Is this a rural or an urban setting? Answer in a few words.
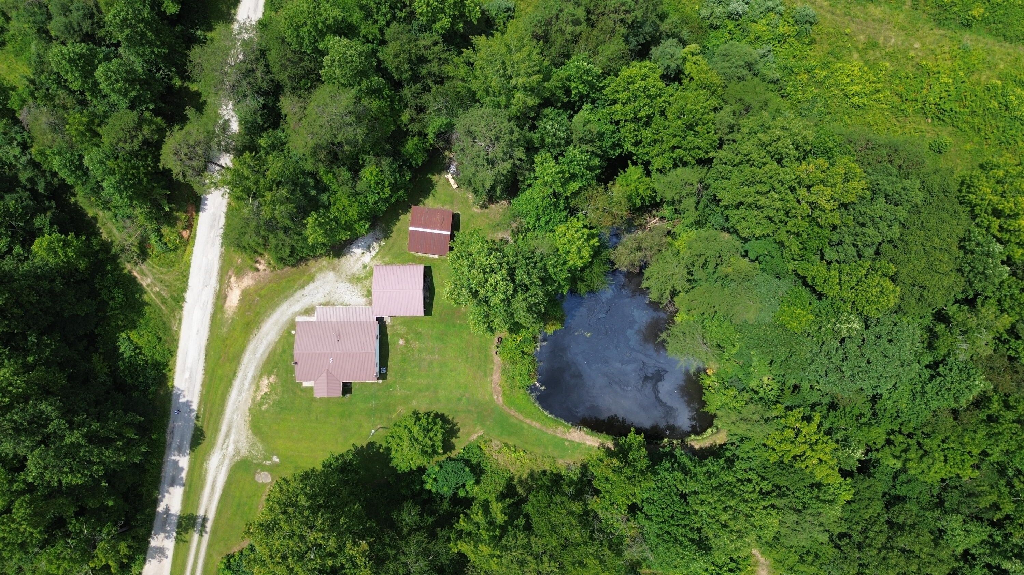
rural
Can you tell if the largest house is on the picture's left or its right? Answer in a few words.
left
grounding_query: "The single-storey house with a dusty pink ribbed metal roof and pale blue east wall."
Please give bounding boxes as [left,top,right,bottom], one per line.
[292,307,380,397]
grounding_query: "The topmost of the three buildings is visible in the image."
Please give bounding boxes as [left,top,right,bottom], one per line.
[408,205,452,256]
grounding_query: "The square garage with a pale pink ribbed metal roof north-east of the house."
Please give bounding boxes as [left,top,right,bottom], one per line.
[372,265,424,316]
